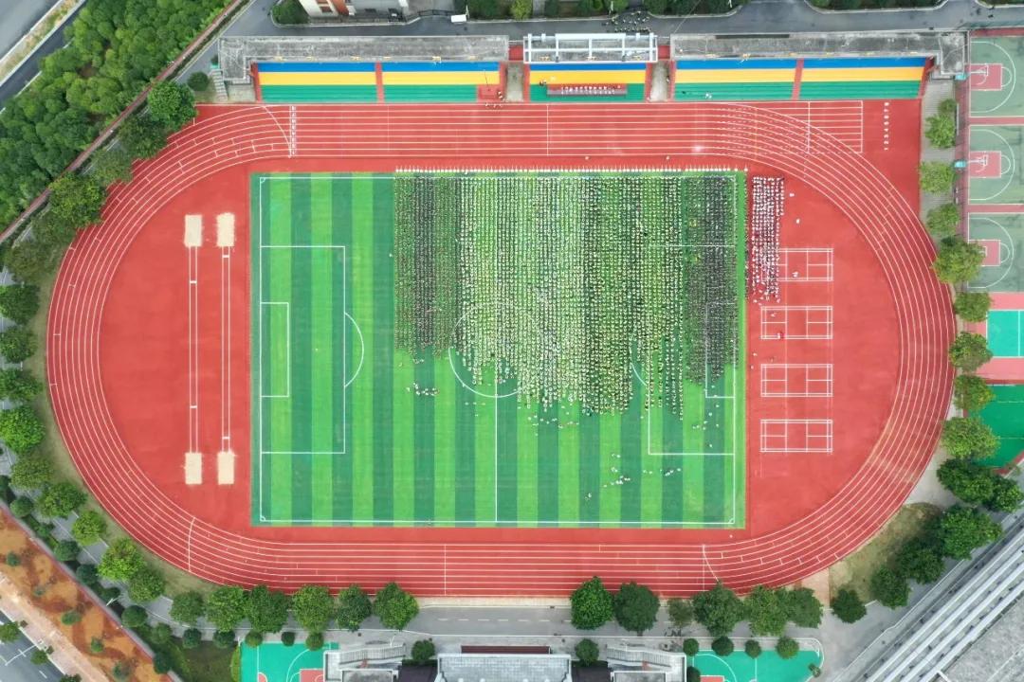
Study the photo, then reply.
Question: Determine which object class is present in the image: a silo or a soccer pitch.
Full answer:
Looking from above, you can make out a soccer pitch.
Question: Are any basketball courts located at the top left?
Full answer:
No, no basketball court appears at the top left.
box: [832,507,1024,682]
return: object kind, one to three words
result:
building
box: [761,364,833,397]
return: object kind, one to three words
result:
sports court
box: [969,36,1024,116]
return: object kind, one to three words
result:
basketball court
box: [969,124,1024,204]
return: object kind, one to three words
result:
basketball court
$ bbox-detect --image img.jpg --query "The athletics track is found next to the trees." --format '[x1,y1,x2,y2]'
[47,99,955,599]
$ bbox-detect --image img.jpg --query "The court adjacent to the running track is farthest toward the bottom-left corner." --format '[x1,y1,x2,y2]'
[240,643,339,682]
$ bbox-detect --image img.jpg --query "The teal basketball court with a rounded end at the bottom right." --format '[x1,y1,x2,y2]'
[689,651,822,682]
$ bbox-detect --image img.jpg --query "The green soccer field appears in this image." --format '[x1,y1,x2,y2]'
[249,171,747,530]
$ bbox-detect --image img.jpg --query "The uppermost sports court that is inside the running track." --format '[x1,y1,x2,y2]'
[761,248,833,281]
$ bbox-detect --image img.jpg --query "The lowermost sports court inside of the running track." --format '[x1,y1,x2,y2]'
[761,419,833,453]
